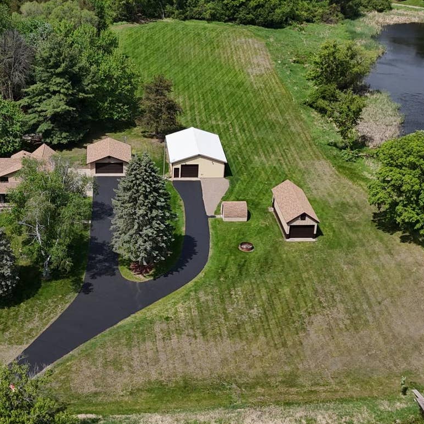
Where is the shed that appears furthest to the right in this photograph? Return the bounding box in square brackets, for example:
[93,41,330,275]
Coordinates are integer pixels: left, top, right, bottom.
[273,182,320,239]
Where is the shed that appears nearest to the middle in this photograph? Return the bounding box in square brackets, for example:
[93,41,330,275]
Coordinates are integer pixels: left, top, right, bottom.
[222,204,248,221]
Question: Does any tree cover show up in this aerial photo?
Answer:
Yes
